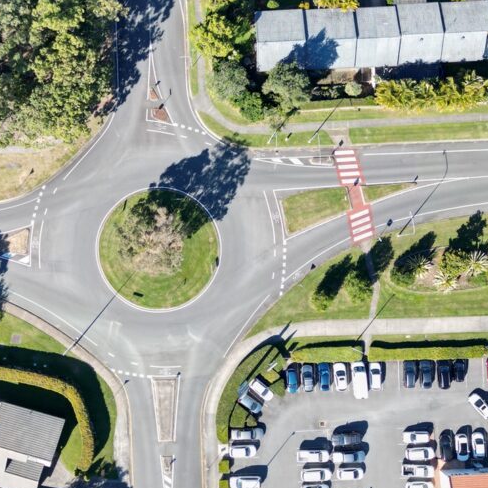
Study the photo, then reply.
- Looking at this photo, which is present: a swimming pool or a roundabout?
roundabout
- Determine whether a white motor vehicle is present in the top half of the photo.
No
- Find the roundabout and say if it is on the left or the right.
left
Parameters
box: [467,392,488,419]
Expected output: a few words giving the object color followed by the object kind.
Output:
white car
